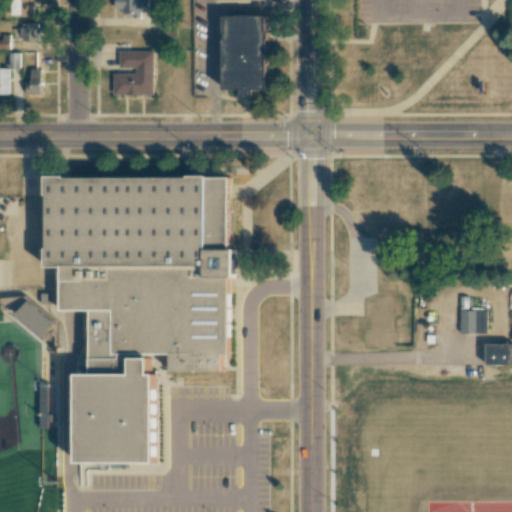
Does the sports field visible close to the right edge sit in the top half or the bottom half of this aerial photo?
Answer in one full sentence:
It is in the bottom half that the sports field visible close to the right edge appears.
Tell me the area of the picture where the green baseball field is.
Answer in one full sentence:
The green baseball field sits in the bottom left section of the image.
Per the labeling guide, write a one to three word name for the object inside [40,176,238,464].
building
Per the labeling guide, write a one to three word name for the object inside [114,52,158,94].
house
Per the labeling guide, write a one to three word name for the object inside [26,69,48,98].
house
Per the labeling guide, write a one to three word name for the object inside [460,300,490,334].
barn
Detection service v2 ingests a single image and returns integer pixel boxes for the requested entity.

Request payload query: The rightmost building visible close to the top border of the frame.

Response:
[220,16,269,97]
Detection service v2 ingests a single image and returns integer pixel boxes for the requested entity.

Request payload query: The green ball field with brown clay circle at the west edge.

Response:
[0,314,63,512]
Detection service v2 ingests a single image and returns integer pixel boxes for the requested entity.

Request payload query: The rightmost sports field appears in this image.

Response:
[361,397,512,512]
